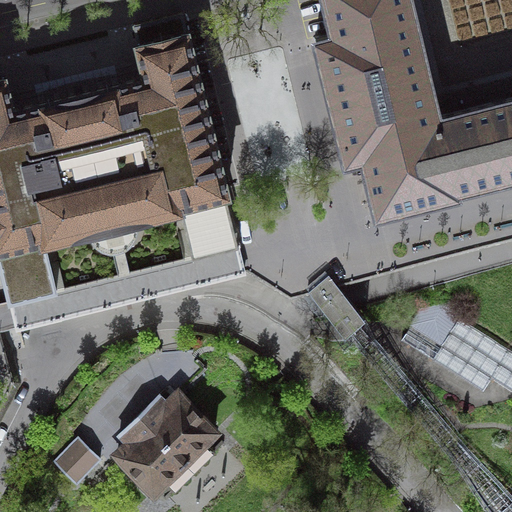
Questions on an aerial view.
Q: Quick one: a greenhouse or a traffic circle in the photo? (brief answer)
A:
greenhouse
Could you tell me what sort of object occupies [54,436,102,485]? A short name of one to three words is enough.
building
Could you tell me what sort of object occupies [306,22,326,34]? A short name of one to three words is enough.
vehicle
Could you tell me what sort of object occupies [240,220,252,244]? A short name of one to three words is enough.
vehicle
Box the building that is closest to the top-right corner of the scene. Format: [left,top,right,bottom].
[312,0,512,226]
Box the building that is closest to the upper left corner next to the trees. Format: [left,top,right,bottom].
[0,14,241,307]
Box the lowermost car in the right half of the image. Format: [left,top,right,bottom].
[330,256,346,278]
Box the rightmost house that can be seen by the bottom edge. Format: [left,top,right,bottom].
[110,384,226,503]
